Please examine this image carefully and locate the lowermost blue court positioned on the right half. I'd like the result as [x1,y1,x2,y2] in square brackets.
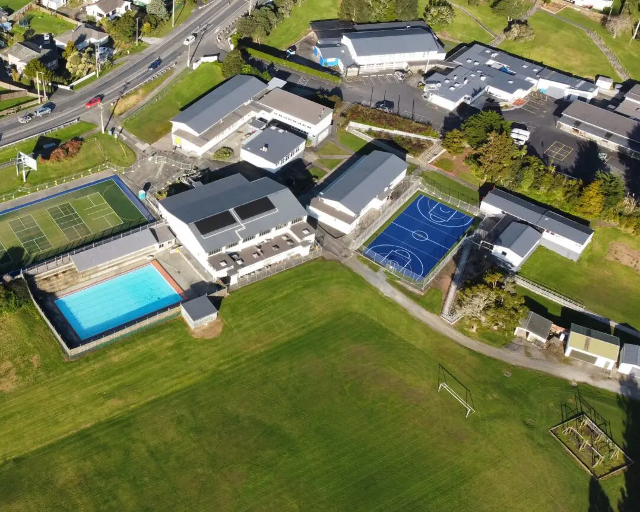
[365,195,479,278]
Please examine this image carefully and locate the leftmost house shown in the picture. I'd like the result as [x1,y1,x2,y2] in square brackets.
[0,41,50,79]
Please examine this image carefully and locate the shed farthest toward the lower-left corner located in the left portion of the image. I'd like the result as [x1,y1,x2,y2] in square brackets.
[181,295,219,331]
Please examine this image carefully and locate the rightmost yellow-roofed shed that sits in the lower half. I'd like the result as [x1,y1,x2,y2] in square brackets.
[561,323,618,372]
